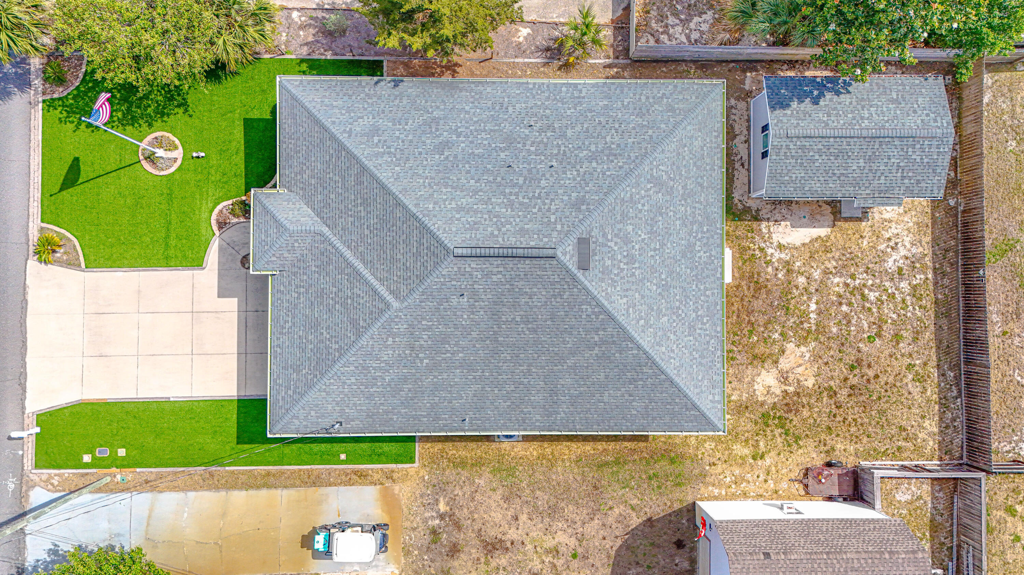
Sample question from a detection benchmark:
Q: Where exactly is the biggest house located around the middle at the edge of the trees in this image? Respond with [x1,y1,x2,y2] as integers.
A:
[251,76,726,437]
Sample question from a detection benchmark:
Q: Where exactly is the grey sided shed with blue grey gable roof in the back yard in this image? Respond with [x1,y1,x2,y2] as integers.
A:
[747,74,955,218]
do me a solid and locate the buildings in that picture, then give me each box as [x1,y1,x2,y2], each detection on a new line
[251,76,726,437]
[747,74,955,218]
[694,499,931,575]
